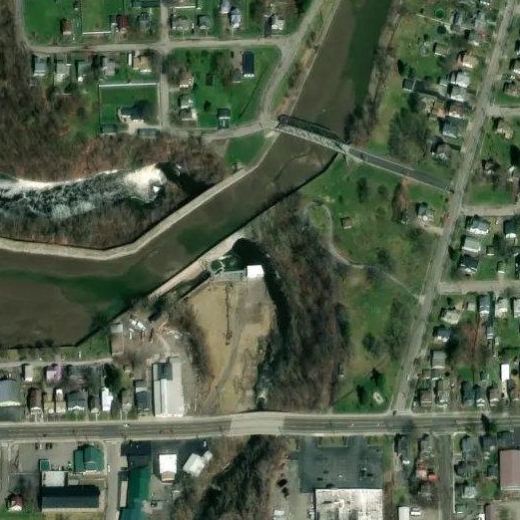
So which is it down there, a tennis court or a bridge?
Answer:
bridge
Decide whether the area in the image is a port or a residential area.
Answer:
residential area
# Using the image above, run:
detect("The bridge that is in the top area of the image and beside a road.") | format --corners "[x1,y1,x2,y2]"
[275,119,346,154]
